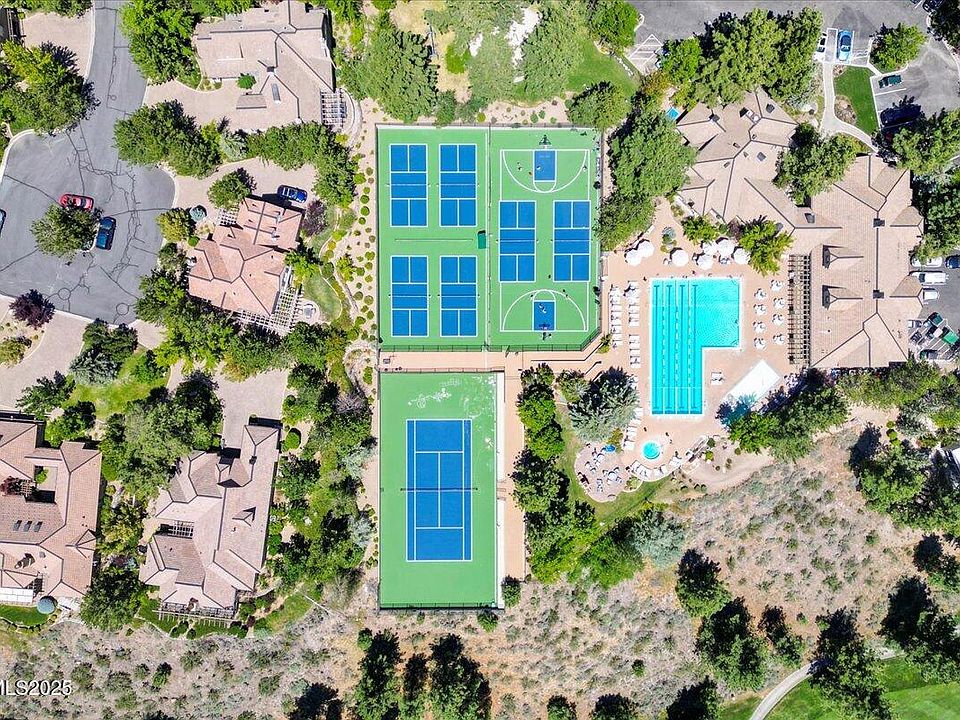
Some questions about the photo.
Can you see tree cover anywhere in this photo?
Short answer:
Yes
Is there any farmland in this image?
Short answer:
No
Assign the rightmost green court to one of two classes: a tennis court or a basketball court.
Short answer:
basketball court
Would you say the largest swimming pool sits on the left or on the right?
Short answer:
right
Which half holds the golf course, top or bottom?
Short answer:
bottom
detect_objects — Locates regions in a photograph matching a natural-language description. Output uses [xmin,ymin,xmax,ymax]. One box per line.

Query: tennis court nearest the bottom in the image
[379,373,497,608]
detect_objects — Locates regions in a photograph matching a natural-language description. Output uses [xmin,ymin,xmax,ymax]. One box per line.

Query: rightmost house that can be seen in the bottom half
[140,424,280,611]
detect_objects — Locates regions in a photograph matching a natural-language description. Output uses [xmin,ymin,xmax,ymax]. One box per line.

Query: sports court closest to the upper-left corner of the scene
[387,144,429,226]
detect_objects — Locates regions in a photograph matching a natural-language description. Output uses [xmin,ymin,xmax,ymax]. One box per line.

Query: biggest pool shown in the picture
[649,276,743,417]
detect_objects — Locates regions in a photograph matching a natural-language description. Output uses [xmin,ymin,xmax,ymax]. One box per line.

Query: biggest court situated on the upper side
[489,128,599,349]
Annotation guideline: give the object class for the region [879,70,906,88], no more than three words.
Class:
vehicle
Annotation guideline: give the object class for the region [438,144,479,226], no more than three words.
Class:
sports court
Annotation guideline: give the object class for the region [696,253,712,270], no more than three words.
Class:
umbrella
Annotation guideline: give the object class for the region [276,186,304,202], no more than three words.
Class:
car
